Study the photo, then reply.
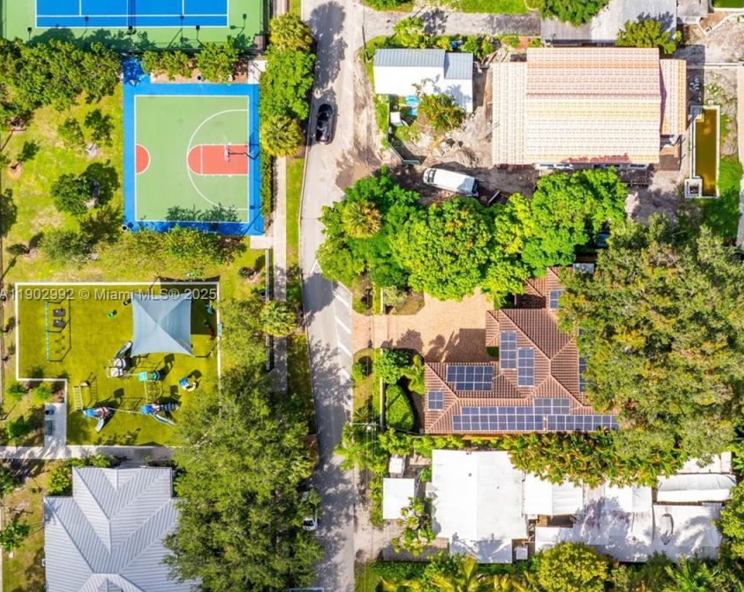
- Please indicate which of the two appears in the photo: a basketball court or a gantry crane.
basketball court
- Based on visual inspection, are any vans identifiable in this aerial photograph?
Yes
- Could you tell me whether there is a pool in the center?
No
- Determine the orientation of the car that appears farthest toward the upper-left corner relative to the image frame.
up and down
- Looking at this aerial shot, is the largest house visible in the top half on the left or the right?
right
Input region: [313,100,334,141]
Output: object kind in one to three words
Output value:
car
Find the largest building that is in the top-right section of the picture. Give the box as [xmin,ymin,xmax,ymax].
[492,46,686,173]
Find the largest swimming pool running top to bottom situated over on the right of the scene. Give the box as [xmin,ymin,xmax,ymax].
[690,104,720,196]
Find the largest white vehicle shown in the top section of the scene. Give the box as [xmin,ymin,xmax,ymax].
[424,164,476,194]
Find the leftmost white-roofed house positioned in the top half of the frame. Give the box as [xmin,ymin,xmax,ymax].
[374,49,473,113]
